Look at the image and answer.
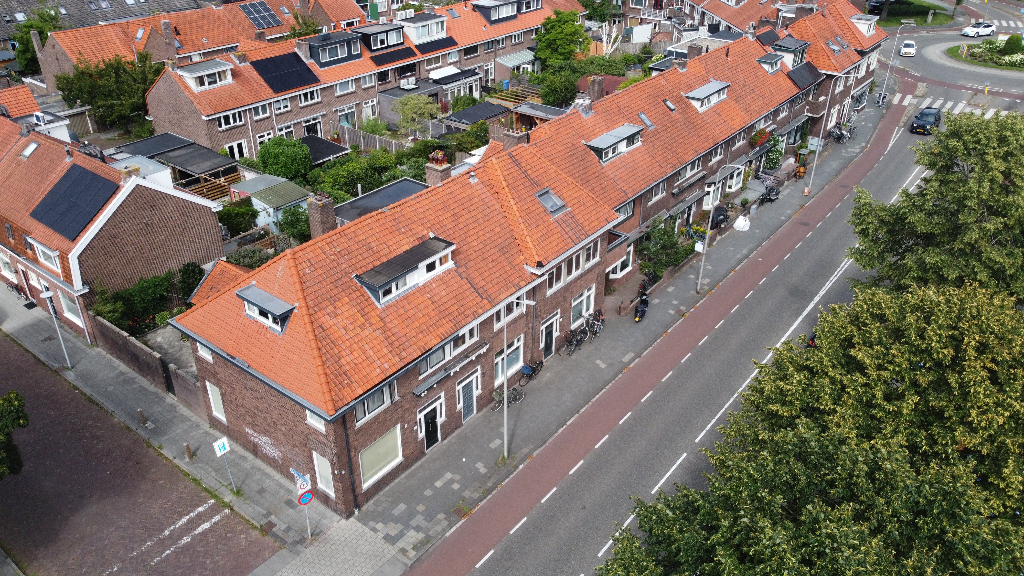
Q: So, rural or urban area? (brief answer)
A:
urban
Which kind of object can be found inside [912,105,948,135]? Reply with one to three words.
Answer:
car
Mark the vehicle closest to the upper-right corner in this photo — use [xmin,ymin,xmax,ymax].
[964,22,1001,37]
